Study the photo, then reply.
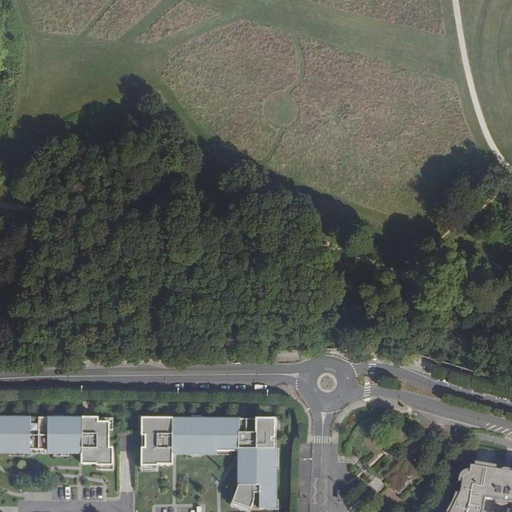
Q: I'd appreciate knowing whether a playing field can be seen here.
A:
No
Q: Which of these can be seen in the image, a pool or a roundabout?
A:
roundabout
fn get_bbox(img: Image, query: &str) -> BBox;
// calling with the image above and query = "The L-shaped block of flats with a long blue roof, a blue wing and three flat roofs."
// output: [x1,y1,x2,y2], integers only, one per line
[140,416,280,512]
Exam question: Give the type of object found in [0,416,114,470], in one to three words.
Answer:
building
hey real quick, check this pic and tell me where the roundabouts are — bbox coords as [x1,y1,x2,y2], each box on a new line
[292,356,380,430]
